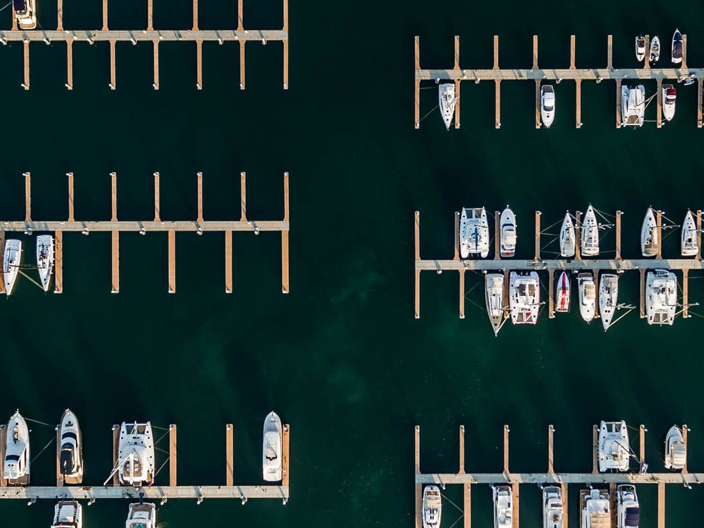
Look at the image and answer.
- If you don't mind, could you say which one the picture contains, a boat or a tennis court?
boat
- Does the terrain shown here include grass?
No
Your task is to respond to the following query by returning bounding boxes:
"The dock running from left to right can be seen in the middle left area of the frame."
[0,221,289,236]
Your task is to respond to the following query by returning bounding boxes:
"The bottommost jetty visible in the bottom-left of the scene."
[0,485,289,504]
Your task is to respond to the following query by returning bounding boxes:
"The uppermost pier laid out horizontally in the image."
[0,30,288,46]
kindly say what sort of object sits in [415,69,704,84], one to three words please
pier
